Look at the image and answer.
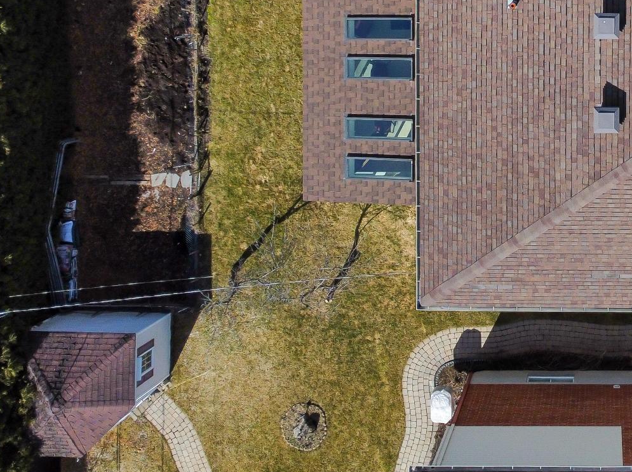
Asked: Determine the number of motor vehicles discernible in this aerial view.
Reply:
0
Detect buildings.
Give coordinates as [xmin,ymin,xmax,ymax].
[302,0,632,312]
[409,372,632,472]
[20,311,169,459]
